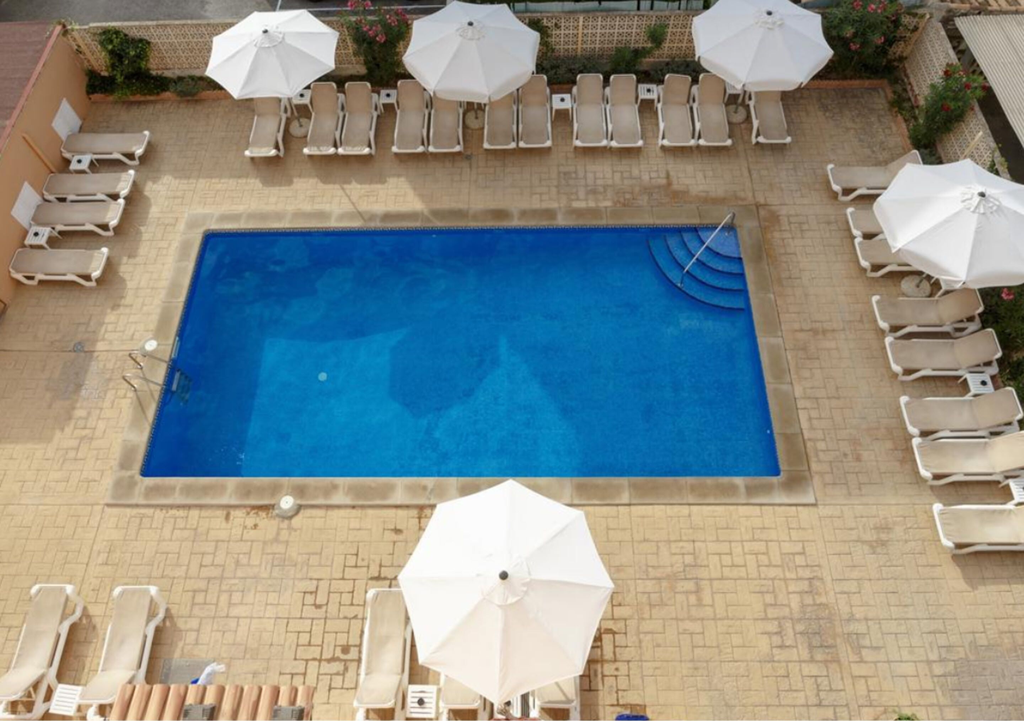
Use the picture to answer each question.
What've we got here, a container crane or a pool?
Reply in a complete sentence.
There is a pool in the scene.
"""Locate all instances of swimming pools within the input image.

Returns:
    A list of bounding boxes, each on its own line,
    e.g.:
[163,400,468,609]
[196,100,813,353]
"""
[150,234,775,476]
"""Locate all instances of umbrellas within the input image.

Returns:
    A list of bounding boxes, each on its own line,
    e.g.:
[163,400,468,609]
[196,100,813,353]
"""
[203,10,340,136]
[396,479,616,704]
[876,154,1024,298]
[694,0,832,124]
[403,0,541,129]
